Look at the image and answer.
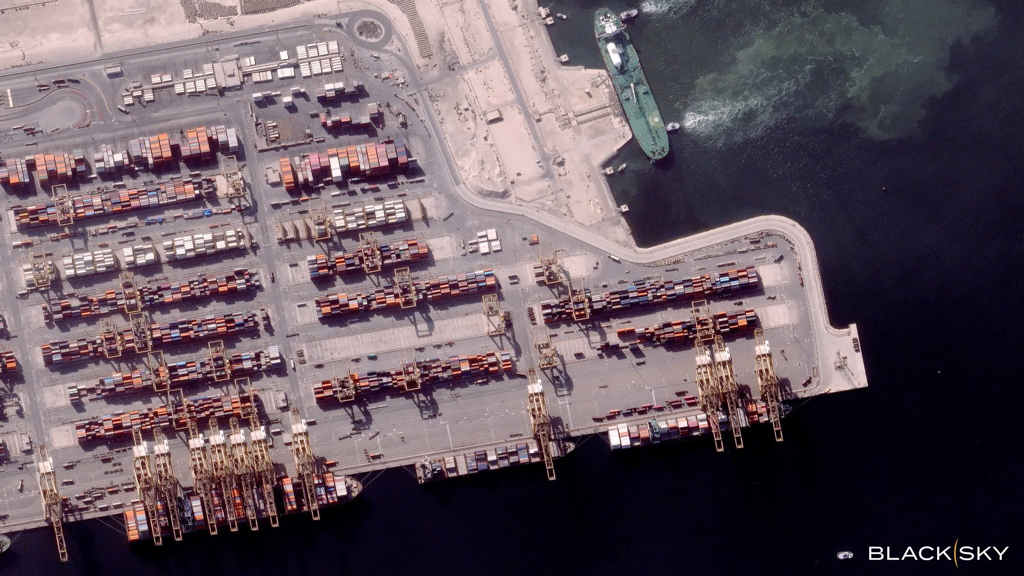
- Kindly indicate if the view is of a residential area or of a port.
port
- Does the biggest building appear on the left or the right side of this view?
left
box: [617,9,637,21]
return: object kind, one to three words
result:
boat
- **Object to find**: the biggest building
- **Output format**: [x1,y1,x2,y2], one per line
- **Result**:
[213,61,241,89]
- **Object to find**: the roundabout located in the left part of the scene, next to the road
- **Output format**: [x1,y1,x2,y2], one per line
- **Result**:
[347,10,393,50]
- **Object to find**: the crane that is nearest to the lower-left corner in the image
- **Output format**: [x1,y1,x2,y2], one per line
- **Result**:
[39,444,68,562]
